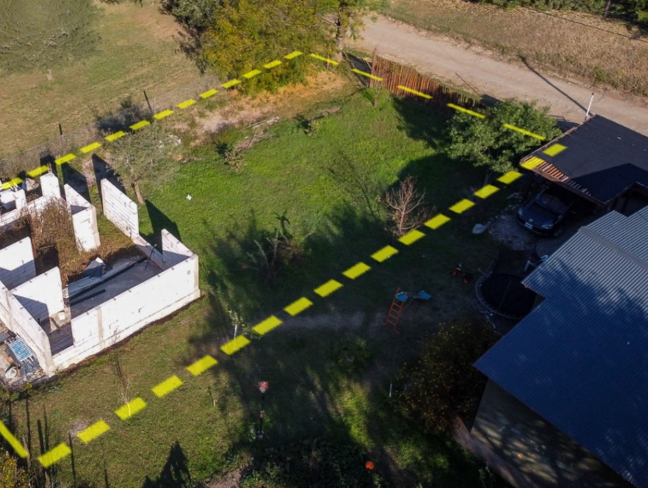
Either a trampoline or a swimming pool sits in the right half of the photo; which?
trampoline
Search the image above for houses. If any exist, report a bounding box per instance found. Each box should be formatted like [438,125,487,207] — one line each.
[468,205,648,488]
[0,170,205,377]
